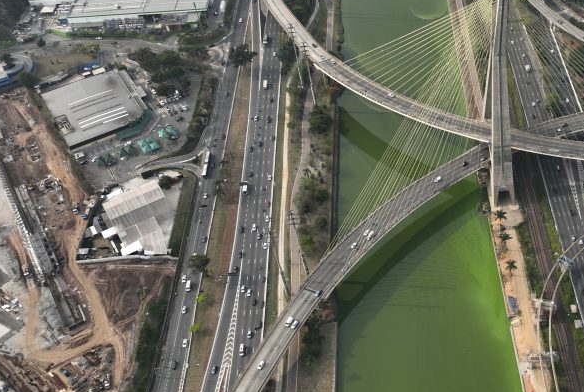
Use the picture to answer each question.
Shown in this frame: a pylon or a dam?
pylon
